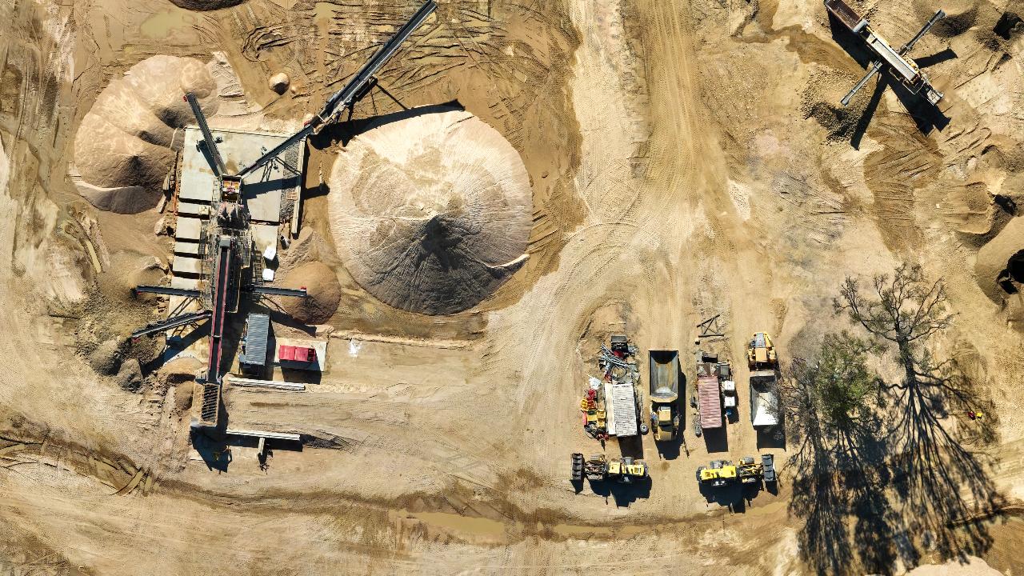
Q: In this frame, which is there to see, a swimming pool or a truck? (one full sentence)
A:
Visible in the photo is a truck.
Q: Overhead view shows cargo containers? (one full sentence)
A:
Yes, a cargo container appears in the view.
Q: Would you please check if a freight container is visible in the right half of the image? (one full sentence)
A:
Yes, looking in the right half of the image, one can make out a freight container.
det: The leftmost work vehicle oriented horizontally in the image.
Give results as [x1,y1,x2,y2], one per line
[562,456,644,485]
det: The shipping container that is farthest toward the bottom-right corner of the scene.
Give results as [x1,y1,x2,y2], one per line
[697,374,724,430]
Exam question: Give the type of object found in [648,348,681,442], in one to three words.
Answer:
truck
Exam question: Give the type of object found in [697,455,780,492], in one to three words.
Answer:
work vehicle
